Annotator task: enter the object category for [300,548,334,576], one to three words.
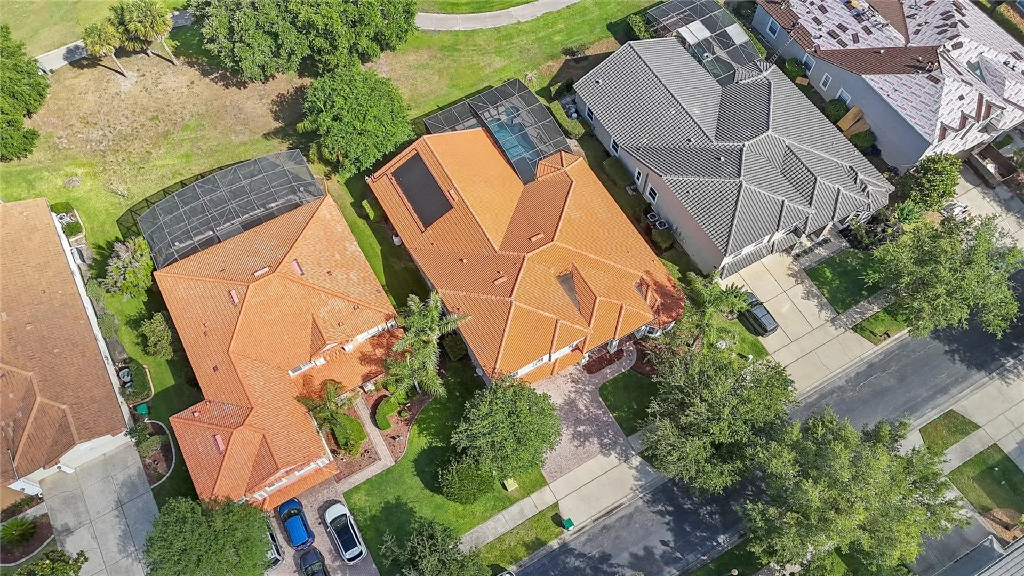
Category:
car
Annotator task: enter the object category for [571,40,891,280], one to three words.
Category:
house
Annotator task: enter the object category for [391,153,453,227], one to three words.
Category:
solar panel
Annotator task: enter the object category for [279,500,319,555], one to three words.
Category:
car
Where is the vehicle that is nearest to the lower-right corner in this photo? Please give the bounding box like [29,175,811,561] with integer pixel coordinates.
[734,292,780,340]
